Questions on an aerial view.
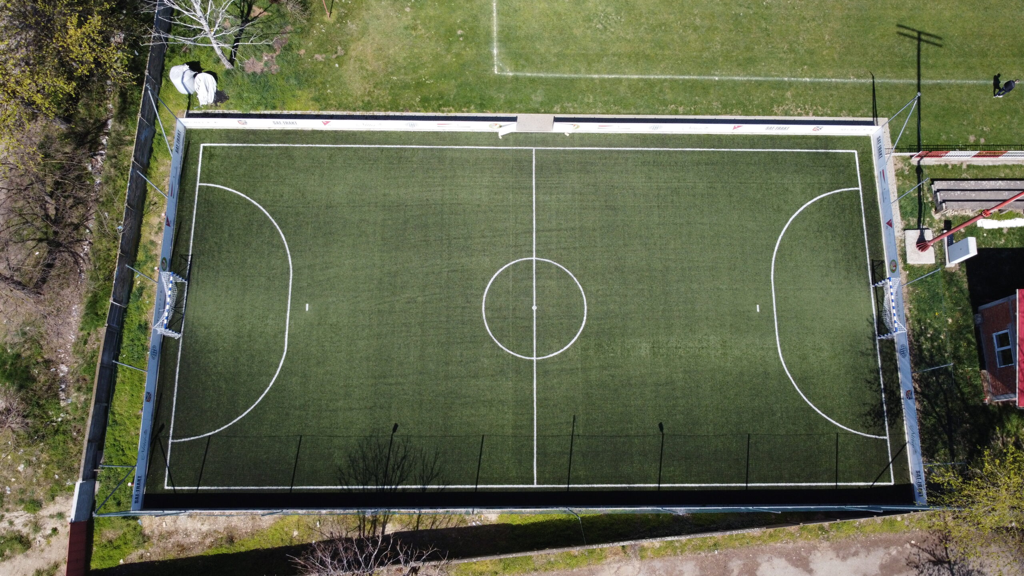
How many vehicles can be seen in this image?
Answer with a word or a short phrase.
zero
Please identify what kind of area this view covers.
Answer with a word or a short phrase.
sports ground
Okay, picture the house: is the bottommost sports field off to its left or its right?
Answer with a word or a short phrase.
left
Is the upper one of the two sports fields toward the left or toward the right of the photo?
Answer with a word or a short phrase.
right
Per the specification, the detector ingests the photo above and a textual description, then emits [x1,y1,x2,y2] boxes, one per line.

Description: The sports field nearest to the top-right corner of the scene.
[494,0,1024,83]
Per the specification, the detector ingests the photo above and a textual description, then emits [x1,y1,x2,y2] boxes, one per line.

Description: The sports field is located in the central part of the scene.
[144,129,916,508]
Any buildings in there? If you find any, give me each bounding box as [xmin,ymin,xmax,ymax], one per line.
[971,285,1024,407]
